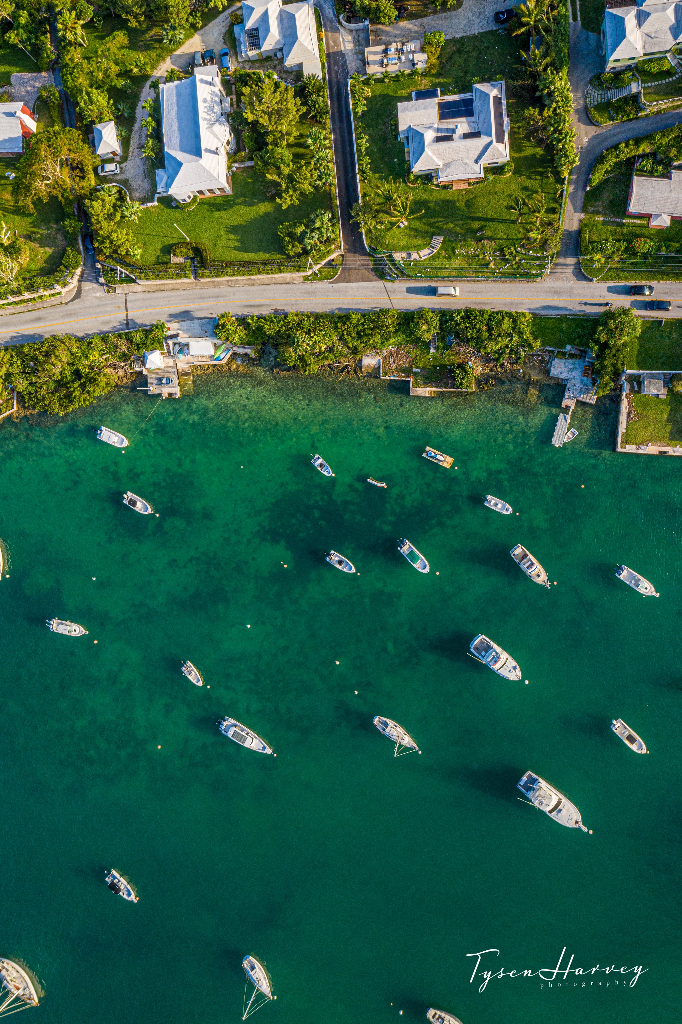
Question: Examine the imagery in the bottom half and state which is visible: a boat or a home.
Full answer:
Visible in the bottom half is a boat.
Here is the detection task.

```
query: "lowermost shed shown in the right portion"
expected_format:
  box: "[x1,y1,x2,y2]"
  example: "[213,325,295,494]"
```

[640,373,663,395]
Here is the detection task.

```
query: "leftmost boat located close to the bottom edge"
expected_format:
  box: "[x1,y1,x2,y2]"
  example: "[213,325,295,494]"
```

[0,952,39,1019]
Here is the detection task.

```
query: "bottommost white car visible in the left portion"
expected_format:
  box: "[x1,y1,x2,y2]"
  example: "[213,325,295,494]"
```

[99,164,119,176]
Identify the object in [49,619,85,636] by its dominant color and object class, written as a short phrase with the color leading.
white boat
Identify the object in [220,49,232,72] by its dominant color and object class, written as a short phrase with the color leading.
blue vehicle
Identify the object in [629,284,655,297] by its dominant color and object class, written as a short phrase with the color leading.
black vehicle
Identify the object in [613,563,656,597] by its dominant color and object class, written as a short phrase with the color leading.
white boat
